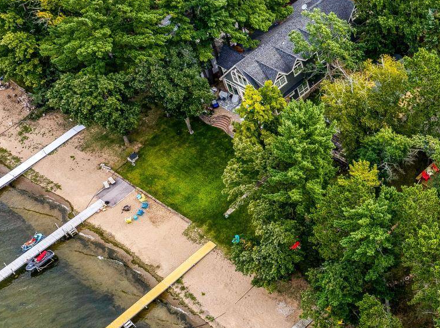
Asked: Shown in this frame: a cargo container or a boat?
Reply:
boat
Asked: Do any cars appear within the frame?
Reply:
No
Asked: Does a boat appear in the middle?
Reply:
No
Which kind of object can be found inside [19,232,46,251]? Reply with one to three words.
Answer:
boat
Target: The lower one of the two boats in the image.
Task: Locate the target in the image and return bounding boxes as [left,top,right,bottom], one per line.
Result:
[28,250,57,276]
